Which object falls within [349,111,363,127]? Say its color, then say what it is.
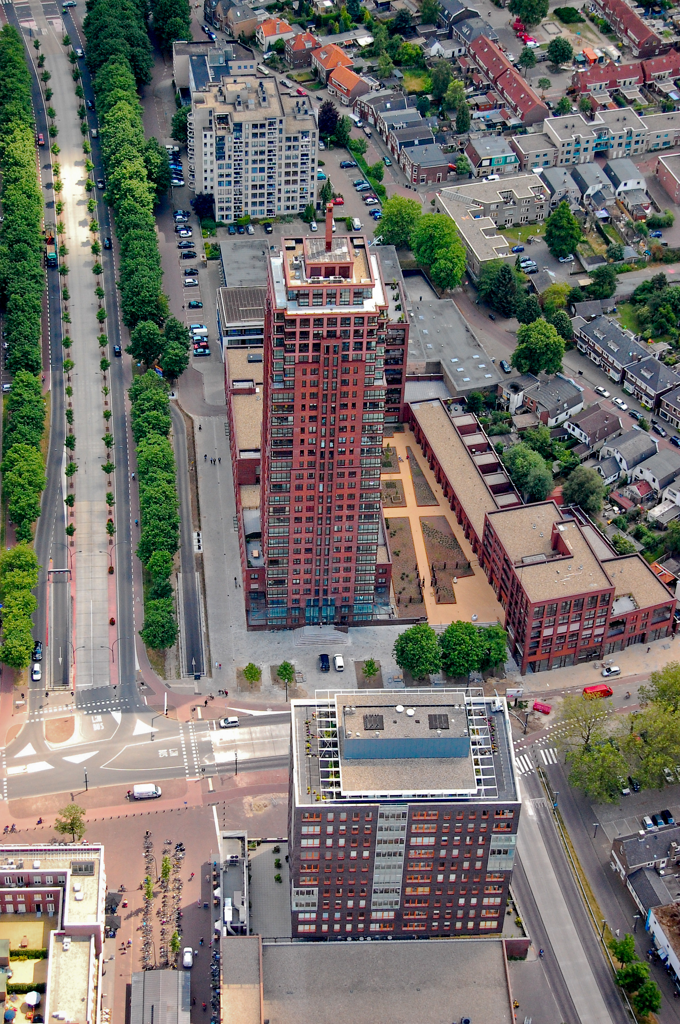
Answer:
white vehicle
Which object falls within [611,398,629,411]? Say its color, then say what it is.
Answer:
white vehicle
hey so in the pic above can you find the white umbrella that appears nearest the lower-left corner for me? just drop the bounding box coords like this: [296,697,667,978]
[25,991,41,1005]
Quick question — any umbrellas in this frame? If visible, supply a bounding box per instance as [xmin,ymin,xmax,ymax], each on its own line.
[5,1010,16,1022]
[32,1015,44,1024]
[211,888,220,898]
[212,921,220,931]
[25,991,41,1005]
[105,891,125,908]
[105,913,124,931]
